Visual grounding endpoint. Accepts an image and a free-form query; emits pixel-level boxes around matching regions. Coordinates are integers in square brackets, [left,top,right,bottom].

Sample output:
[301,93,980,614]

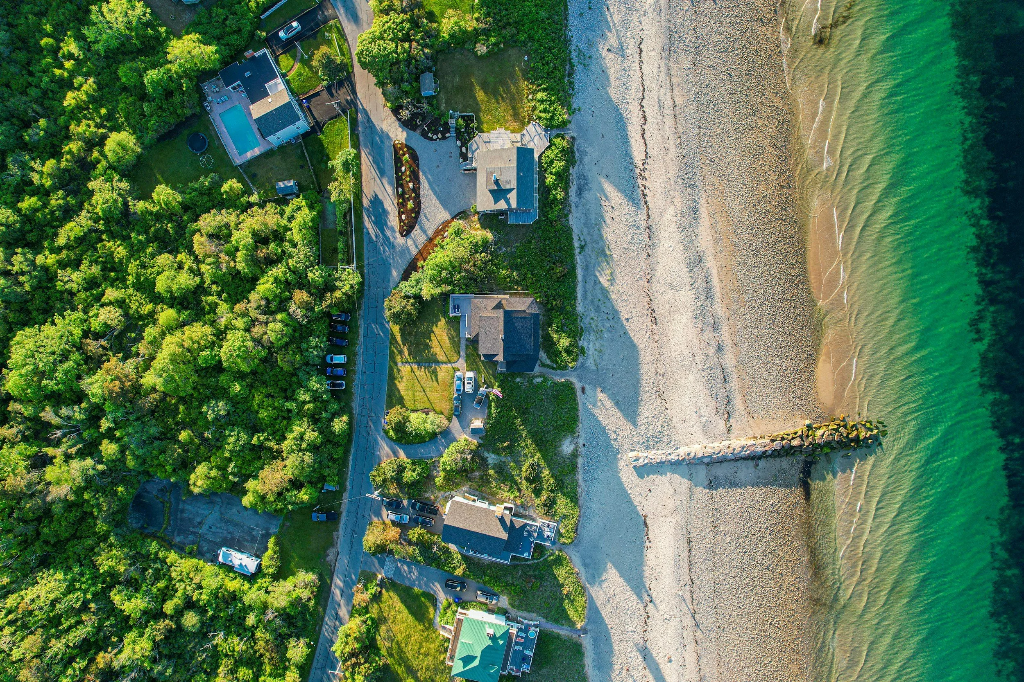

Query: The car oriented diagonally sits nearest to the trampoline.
[278,21,302,39]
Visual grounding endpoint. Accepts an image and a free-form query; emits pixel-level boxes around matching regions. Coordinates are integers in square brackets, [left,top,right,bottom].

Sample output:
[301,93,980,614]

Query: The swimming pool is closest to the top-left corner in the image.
[219,102,261,156]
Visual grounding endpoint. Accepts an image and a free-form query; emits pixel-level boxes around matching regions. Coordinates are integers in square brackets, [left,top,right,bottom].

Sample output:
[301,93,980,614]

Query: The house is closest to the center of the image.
[449,294,539,374]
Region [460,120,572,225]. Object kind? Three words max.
house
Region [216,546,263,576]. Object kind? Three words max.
camper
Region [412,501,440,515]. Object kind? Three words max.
vehicle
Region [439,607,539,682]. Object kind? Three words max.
building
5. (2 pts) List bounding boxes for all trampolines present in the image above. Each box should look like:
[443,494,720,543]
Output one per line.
[187,131,207,151]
